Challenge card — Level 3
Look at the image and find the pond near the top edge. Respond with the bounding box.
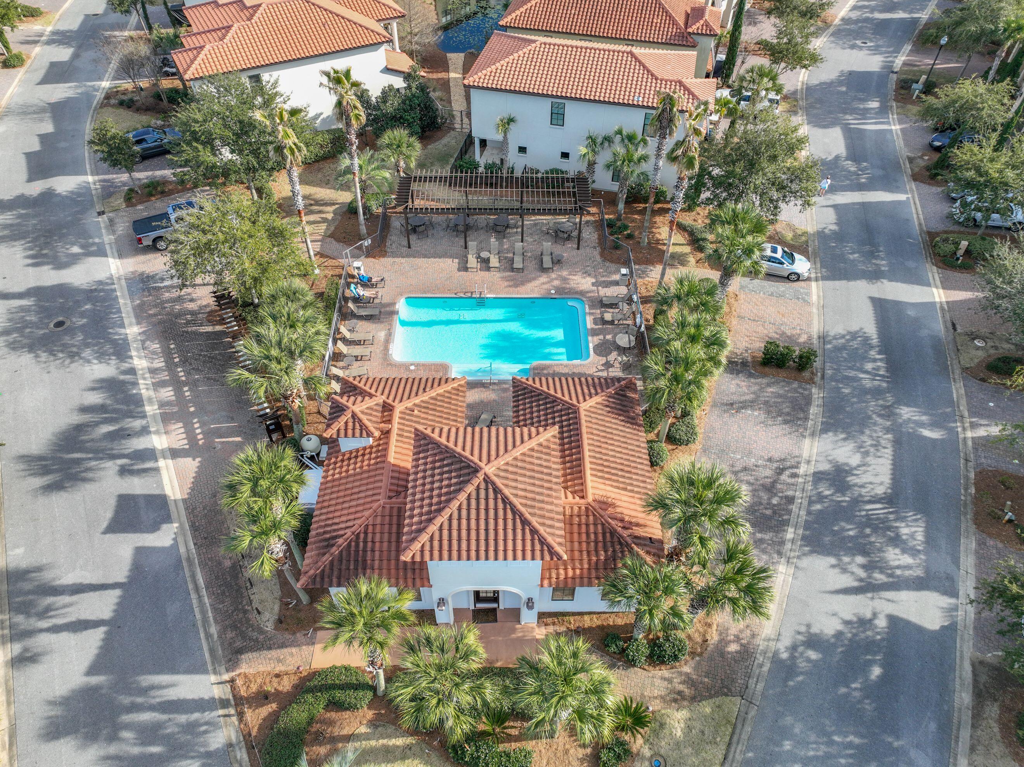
[435,0,519,56]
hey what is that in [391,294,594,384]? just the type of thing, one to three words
swimming pool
